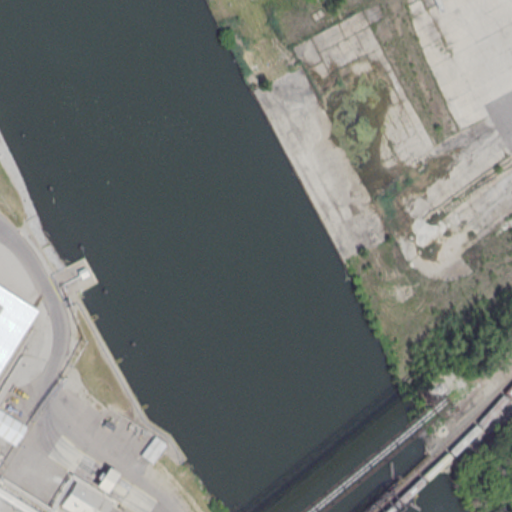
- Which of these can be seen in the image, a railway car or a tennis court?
railway car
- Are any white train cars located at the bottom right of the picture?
Yes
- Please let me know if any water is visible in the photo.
Yes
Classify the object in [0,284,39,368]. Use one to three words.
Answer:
building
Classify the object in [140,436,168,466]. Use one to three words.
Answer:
shed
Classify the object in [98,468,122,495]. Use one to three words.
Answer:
building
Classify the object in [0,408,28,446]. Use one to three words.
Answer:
shed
